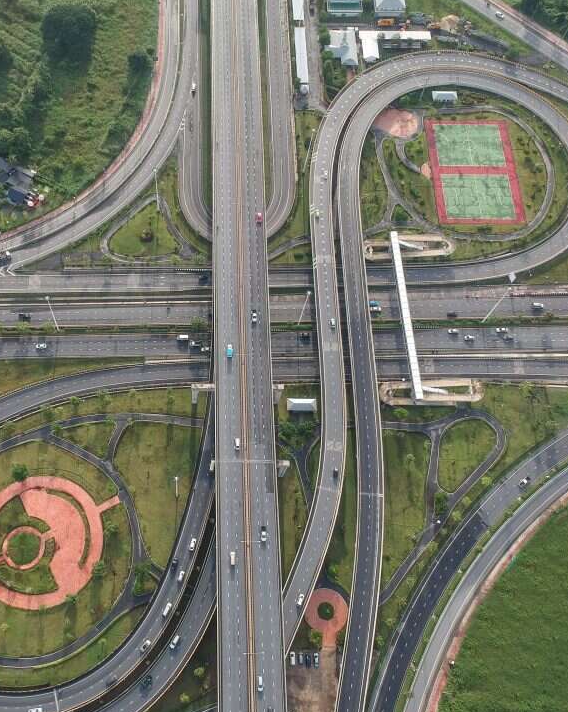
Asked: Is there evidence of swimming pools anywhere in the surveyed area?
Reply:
No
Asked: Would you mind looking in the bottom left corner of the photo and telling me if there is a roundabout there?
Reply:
No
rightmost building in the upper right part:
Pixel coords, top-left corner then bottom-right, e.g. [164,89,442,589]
[431,91,457,105]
